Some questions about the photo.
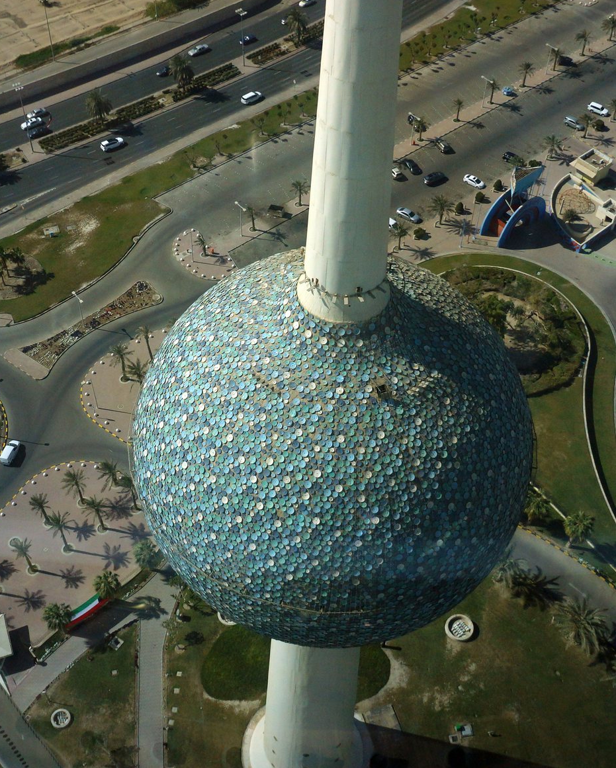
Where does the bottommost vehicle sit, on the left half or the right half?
left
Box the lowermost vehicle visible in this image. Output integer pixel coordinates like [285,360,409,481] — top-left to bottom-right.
[0,437,20,465]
